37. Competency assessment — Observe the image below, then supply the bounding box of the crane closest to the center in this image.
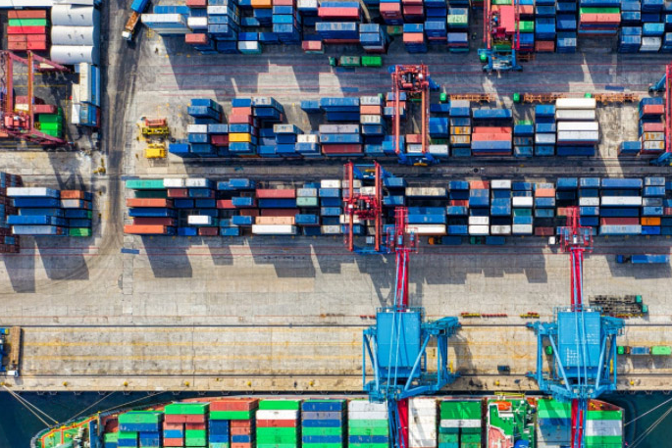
[343,162,396,252]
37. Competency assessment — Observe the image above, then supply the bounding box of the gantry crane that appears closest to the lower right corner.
[523,207,621,448]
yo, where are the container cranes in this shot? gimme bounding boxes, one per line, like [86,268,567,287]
[360,207,464,448]
[2,49,82,149]
[523,207,621,448]
[482,0,522,67]
[343,162,396,252]
[651,57,672,161]
[392,62,440,162]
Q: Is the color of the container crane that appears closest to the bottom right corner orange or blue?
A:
blue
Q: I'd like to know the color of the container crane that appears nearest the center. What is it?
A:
red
